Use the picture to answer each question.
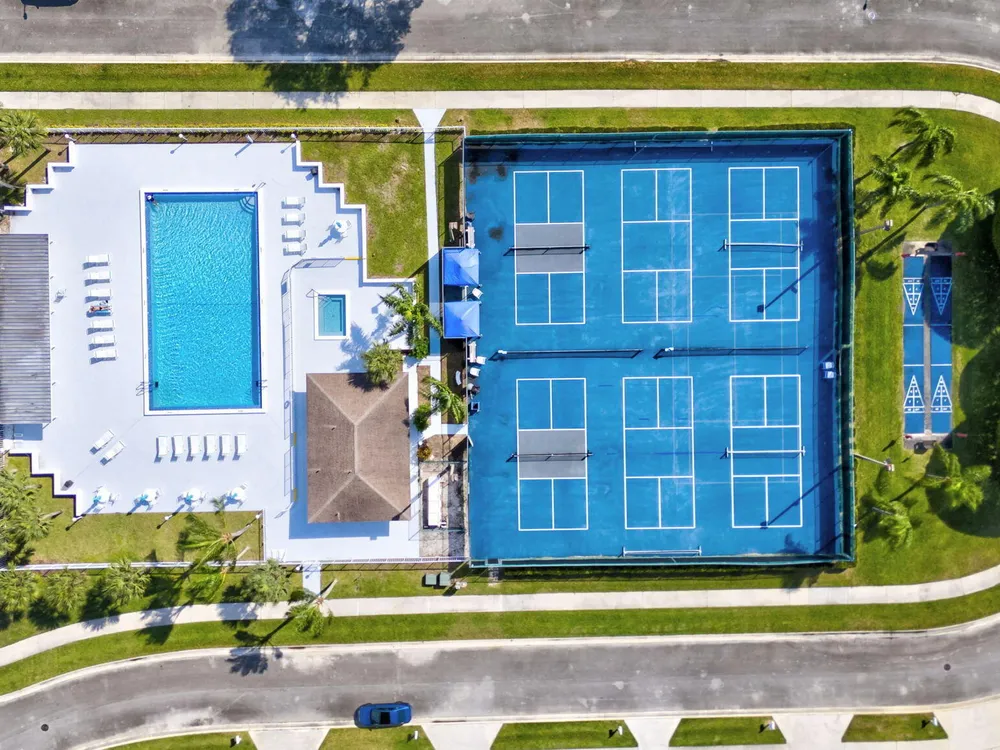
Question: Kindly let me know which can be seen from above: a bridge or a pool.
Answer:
pool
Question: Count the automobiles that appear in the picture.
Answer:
1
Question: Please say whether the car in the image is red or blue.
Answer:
blue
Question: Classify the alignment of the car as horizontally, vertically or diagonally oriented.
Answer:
horizontally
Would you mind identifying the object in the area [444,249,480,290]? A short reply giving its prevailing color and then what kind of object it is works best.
blue tent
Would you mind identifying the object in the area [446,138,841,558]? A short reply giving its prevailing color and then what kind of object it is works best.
blue tennis court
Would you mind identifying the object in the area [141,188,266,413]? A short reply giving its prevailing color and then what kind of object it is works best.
blue swimming pool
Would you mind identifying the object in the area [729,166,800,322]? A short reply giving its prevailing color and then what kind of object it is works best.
blue sports court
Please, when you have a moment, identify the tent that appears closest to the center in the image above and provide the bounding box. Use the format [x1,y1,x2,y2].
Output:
[444,302,481,340]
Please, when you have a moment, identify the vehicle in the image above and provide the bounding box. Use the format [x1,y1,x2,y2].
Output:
[356,700,411,729]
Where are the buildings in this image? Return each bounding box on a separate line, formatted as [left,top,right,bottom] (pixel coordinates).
[0,229,58,423]
[306,372,411,523]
